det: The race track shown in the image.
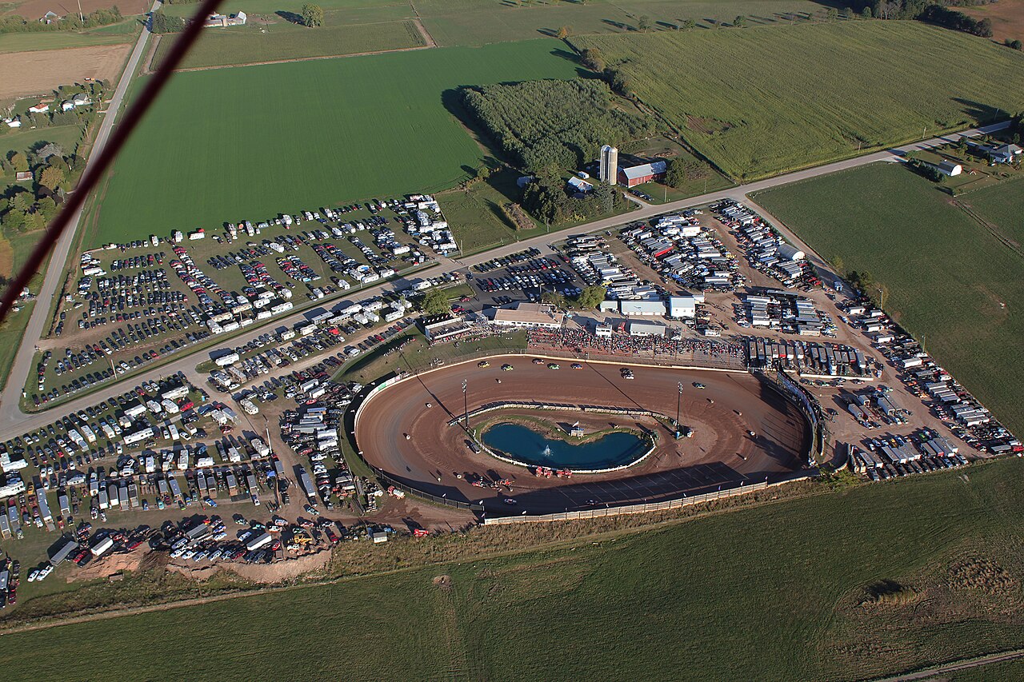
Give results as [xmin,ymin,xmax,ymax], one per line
[354,354,813,522]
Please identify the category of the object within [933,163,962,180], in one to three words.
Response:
barn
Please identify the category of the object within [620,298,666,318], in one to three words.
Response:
shed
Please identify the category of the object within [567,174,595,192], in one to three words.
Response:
house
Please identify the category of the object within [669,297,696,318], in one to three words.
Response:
building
